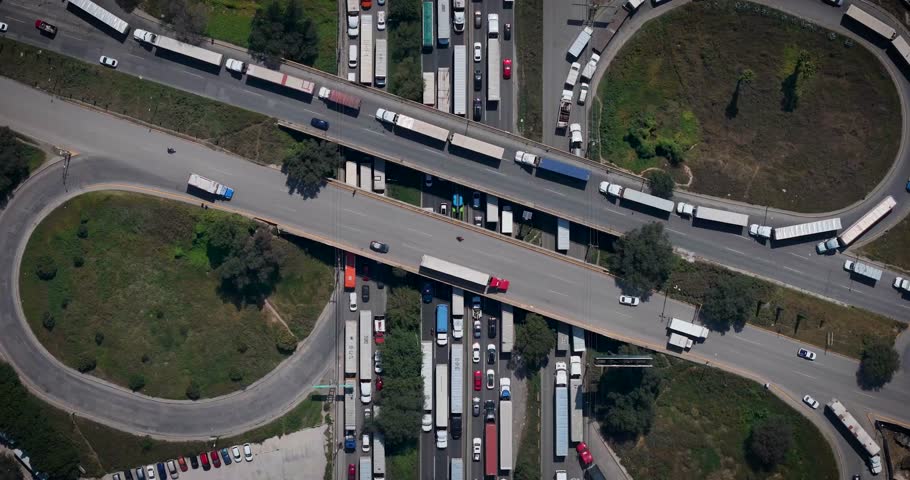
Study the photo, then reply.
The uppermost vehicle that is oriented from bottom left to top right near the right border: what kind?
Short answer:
truck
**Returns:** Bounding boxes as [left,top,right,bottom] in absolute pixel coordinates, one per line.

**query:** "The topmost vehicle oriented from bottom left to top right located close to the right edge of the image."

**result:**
[815,196,897,254]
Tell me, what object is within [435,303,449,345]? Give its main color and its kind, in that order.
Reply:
blue vehicle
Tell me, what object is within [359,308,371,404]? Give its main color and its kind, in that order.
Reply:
white vehicle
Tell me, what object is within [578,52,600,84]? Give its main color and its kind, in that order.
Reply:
white truck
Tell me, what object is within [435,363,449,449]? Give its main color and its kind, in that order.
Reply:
white vehicle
